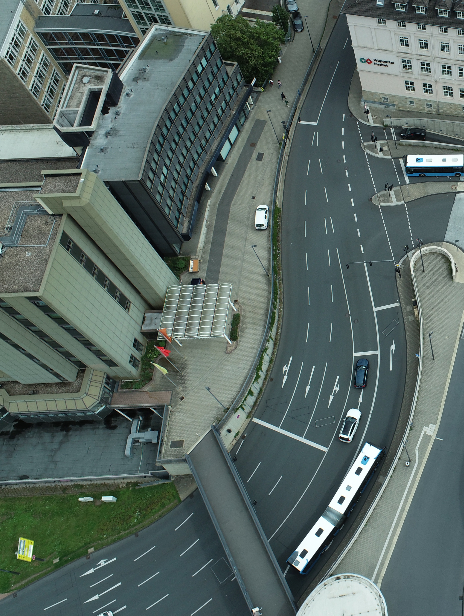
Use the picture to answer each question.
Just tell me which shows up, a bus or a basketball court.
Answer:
bus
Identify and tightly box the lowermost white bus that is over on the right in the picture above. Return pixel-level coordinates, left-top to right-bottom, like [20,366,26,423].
[288,441,383,578]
